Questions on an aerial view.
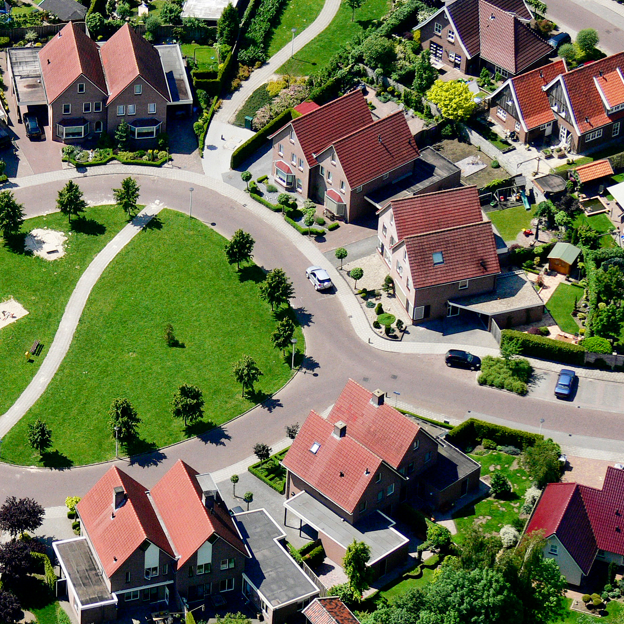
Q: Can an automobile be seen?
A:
Yes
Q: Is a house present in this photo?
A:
Yes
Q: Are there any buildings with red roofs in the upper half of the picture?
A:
Yes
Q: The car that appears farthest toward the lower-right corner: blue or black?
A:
blue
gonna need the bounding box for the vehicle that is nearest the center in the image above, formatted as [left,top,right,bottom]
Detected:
[303,263,333,289]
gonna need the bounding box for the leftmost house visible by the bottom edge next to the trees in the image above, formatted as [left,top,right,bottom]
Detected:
[53,459,320,624]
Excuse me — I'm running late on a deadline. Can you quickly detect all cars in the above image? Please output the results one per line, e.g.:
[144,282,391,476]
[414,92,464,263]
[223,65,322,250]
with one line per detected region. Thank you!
[555,369,575,398]
[227,498,258,515]
[445,353,480,372]
[0,122,11,147]
[303,263,333,289]
[173,103,187,120]
[546,28,575,50]
[23,111,41,136]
